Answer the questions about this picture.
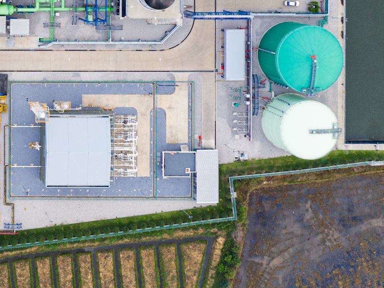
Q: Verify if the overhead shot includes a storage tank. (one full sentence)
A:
Yes, the frame does contain a storage tank.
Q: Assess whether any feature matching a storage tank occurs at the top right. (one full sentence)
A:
Yes, a storage tank is visible at the top right.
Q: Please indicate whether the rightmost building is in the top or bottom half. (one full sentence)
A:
The rightmost building is in the top half of the image.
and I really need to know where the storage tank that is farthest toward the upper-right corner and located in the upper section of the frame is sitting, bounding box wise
[252,19,346,96]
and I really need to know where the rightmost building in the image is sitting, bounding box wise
[218,29,245,81]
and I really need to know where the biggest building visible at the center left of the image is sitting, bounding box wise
[41,112,111,187]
